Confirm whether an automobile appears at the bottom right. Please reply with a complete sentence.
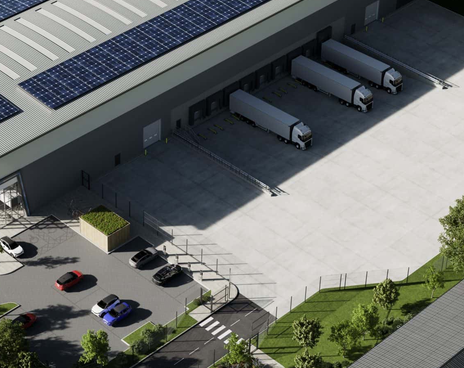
No, no automobile appears at the bottom right.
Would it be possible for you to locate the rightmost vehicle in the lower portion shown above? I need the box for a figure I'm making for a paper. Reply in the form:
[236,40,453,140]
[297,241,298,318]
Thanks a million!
[153,265,183,285]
